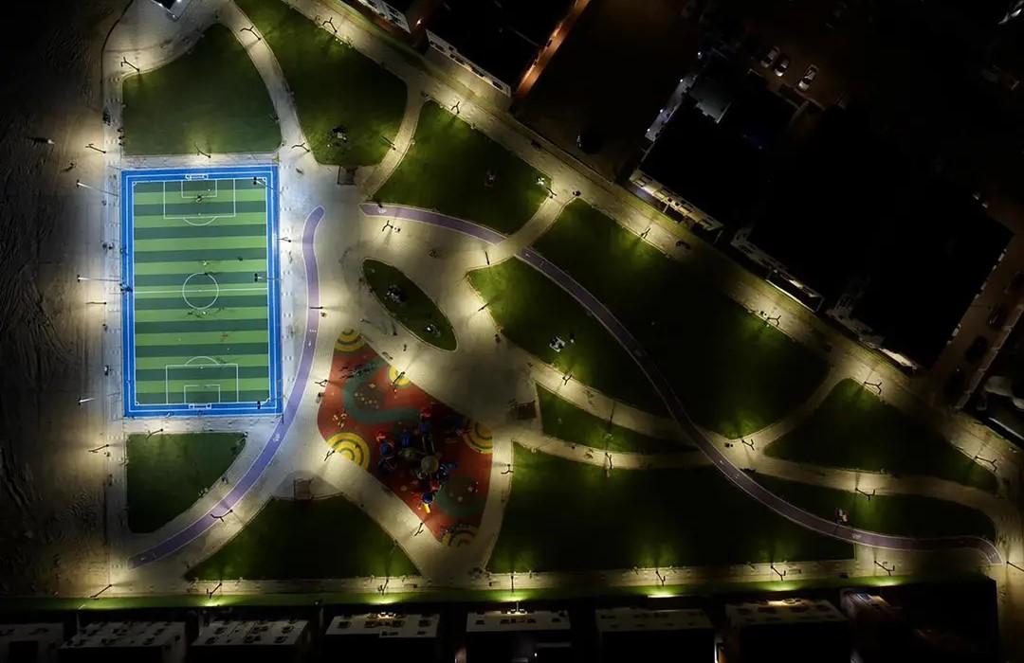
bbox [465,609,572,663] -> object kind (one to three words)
house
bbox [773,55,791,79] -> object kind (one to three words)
car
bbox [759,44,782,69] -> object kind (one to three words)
car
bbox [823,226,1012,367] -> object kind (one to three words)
house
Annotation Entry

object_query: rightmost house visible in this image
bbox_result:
[970,375,1024,439]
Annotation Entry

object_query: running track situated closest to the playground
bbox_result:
[127,203,328,571]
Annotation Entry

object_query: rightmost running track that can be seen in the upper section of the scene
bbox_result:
[362,203,506,247]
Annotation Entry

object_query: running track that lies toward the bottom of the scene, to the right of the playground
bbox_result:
[514,244,1003,567]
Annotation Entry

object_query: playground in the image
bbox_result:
[318,333,493,546]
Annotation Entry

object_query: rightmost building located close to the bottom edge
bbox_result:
[899,604,994,663]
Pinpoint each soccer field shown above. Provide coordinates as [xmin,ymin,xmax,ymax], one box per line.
[120,166,283,417]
